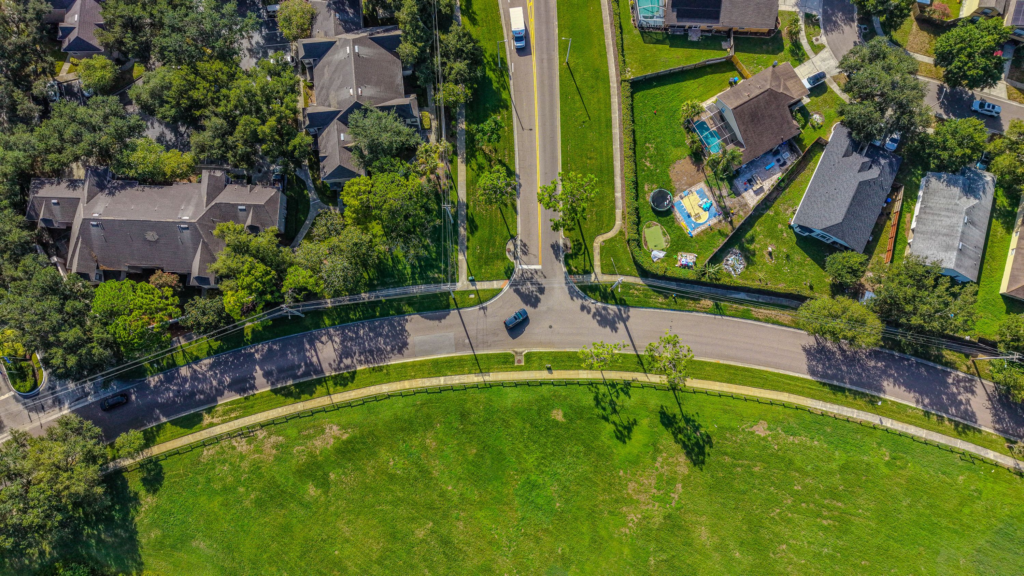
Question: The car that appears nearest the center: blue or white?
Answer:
blue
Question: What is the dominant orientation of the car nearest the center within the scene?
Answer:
diagonally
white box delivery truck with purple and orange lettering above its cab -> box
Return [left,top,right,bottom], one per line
[509,7,527,50]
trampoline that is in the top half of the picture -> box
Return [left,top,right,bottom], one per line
[650,189,672,210]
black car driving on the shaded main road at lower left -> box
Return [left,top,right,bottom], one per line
[99,393,130,411]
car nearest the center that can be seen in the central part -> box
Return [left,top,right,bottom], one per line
[502,307,528,331]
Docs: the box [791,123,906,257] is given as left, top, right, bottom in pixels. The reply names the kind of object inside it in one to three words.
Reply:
house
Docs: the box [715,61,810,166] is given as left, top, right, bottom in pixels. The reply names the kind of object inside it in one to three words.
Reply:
house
